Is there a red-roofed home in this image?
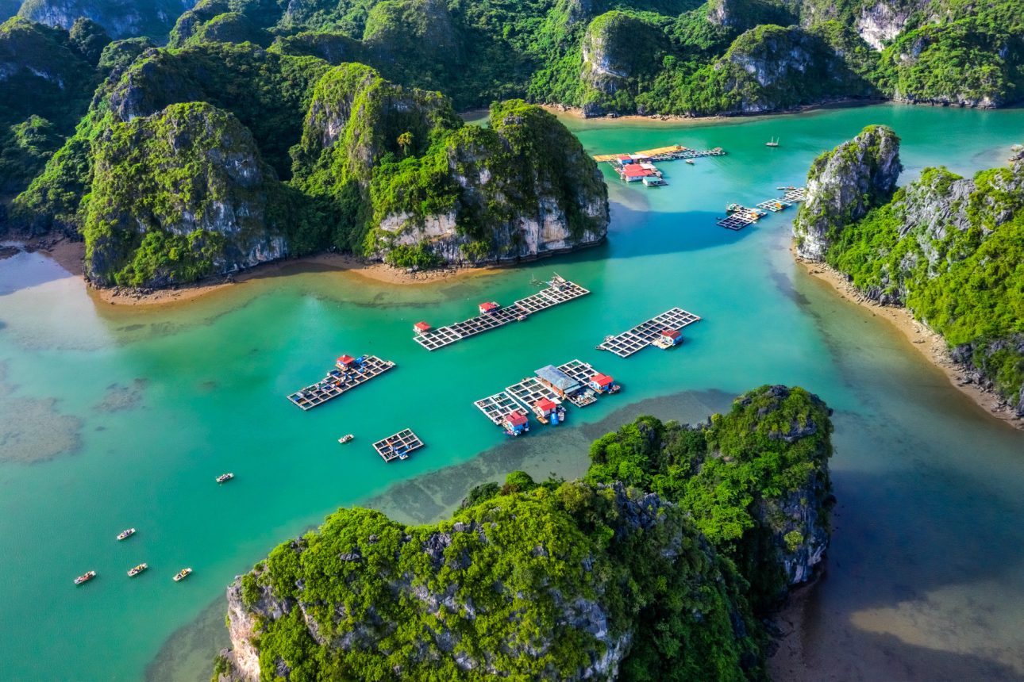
Yes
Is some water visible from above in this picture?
Yes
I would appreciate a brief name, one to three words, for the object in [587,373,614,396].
house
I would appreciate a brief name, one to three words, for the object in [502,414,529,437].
house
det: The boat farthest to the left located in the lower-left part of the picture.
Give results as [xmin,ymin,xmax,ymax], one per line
[71,570,98,585]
